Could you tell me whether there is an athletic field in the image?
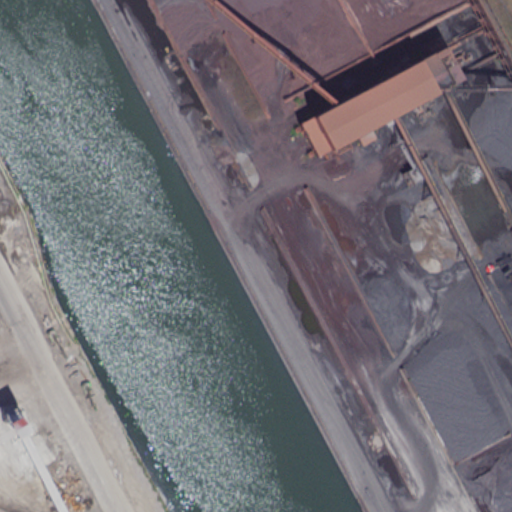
No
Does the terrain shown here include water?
Yes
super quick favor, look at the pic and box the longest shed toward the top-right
[304,46,460,158]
